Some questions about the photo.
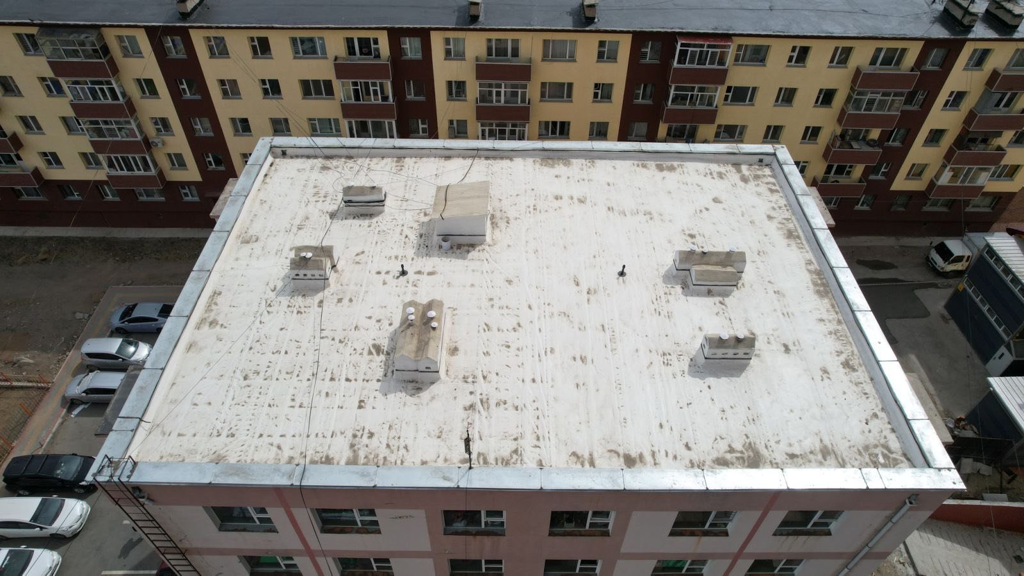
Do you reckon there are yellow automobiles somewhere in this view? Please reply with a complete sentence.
No, I find no yellow automobile anywhere in the image.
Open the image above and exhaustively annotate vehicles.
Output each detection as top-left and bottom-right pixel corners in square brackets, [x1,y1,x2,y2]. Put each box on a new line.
[63,367,129,405]
[0,546,62,576]
[0,445,104,492]
[0,493,89,540]
[107,299,181,333]
[926,219,1019,275]
[76,335,161,370]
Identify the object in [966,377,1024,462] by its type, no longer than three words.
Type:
shed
